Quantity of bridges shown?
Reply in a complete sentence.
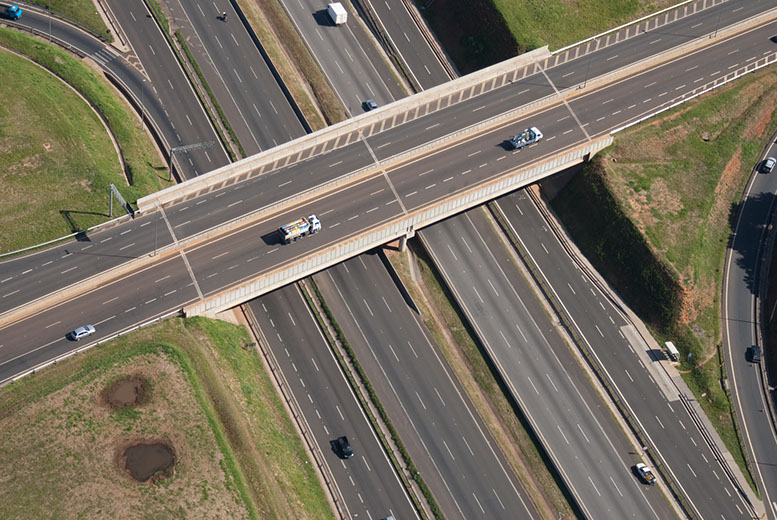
I count 1 bridge.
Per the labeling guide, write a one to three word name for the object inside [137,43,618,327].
bridge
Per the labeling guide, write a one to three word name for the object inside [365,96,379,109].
vehicle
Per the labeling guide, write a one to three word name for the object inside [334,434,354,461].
vehicle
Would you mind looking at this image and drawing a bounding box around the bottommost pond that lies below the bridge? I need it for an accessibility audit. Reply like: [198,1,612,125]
[121,443,179,483]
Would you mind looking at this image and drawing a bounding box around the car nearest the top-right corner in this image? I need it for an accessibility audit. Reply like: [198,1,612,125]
[762,154,776,171]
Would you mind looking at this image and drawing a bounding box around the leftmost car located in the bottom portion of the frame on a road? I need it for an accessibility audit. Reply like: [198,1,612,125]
[68,325,95,341]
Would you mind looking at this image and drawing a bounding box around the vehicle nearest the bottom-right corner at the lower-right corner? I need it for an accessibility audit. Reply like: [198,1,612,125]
[636,465,659,489]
